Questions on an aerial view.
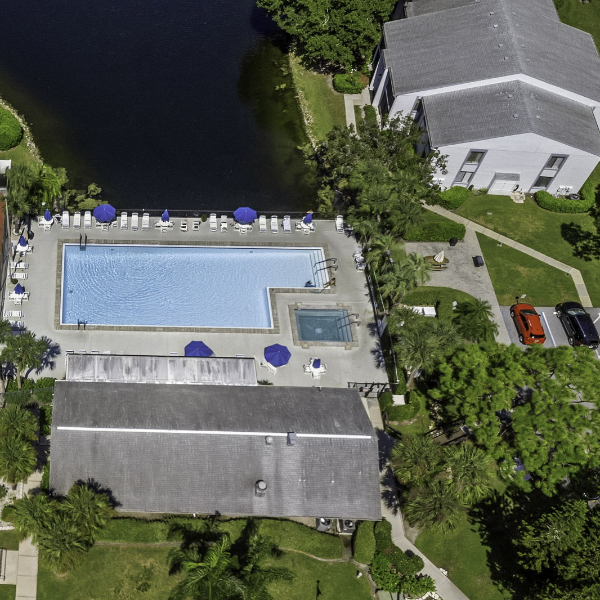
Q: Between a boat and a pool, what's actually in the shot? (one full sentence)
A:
I can see a pool in this picture.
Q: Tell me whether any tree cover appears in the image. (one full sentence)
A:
Yes, tree cover can be seen from above here.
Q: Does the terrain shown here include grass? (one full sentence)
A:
Yes, grass shows up in the scene.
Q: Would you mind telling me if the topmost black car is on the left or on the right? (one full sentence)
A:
The topmost black car appears in the right half of the scene.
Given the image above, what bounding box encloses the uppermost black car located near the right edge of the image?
[558,305,600,350]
